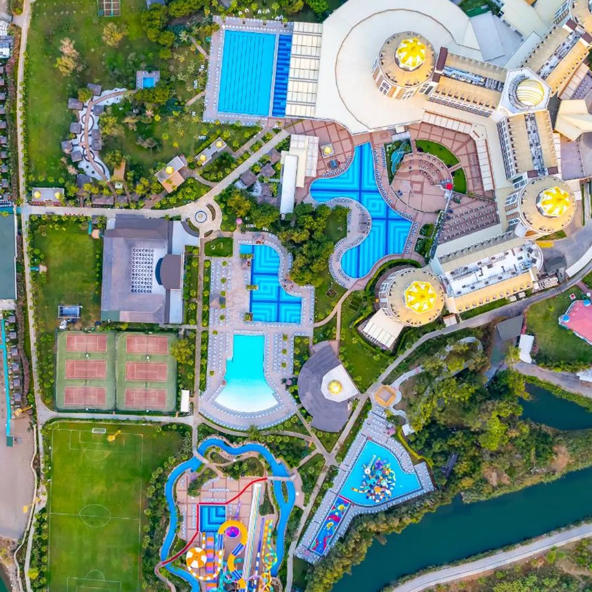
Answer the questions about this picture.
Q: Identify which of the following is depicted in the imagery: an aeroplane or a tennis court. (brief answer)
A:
tennis court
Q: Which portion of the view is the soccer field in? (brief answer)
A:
bottom left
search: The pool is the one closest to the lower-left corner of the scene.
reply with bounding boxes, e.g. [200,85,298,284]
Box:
[199,506,226,534]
